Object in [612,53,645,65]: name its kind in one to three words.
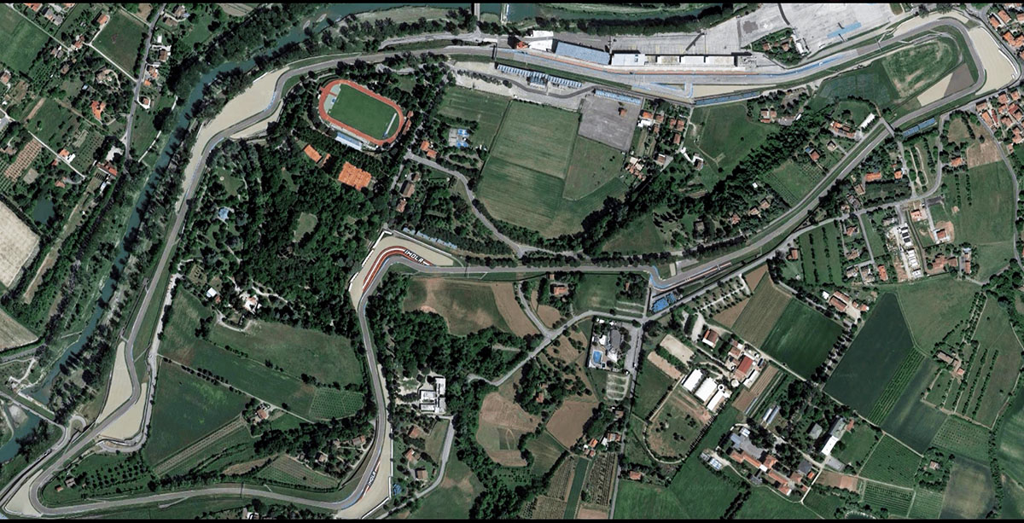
building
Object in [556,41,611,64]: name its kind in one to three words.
building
